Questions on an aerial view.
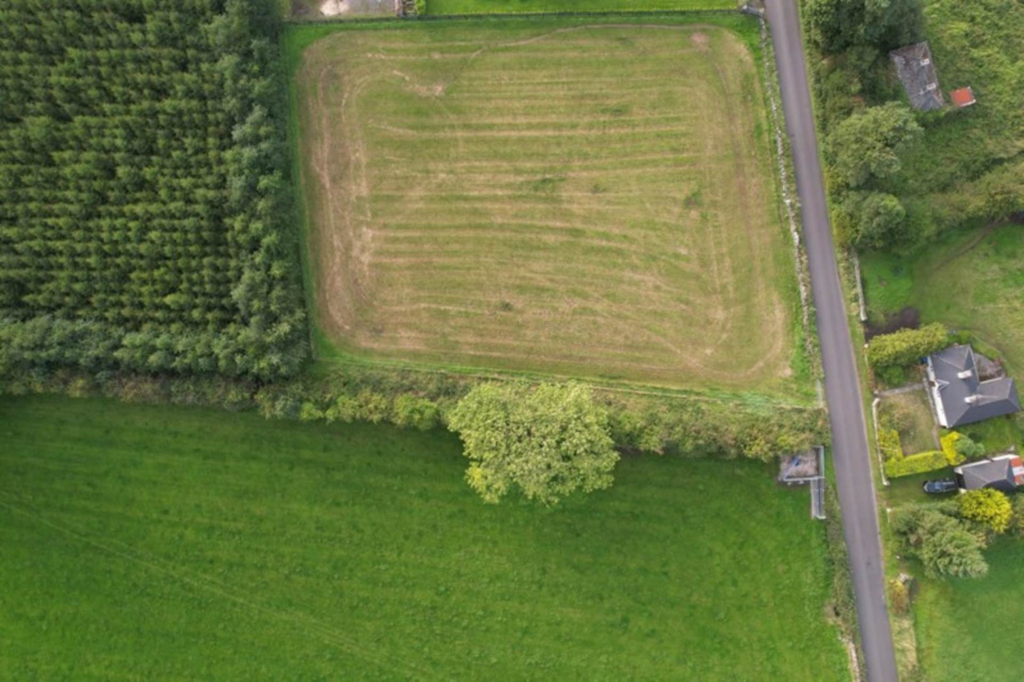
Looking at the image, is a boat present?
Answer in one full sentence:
No, there isn't any boat down there.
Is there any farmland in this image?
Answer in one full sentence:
Yes, there is farmland in the image.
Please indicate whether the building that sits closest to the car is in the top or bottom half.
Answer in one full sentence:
It is in the bottom half that the building that sits closest to the car appears.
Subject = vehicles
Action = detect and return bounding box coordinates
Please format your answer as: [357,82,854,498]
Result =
[920,477,958,496]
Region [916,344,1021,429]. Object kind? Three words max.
house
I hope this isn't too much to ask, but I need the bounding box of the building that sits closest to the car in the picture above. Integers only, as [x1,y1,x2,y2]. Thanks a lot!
[952,457,1016,490]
